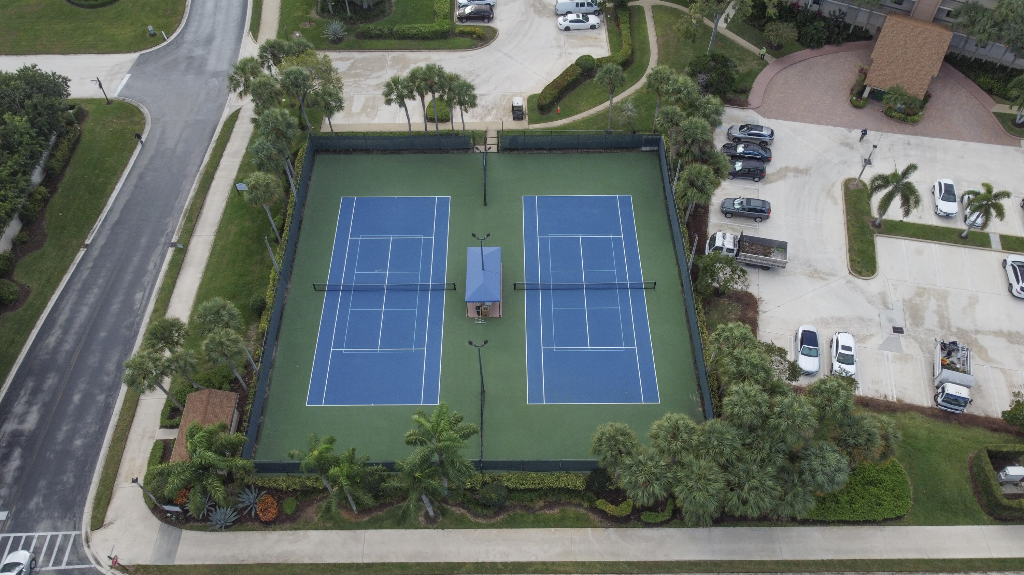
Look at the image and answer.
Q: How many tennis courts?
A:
2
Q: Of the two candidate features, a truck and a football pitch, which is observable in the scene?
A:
truck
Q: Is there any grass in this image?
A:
Yes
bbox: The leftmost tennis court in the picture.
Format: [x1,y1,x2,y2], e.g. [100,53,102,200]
[251,152,487,477]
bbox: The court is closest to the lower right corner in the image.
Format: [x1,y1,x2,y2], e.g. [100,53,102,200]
[483,151,707,476]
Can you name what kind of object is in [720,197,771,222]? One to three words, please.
car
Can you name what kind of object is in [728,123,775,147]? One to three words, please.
car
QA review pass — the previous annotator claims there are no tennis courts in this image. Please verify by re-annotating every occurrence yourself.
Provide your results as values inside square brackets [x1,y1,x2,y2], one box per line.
[483,151,707,476]
[251,152,487,477]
